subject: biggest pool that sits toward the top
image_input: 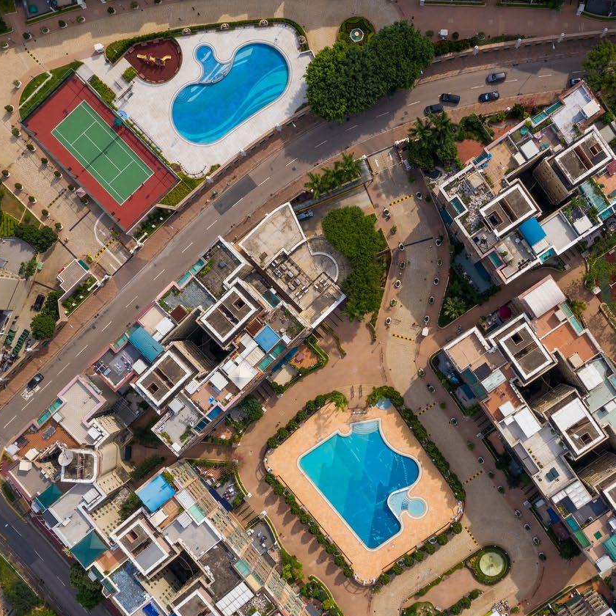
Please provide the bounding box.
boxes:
[92,23,313,178]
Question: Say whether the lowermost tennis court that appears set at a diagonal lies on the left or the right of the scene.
left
